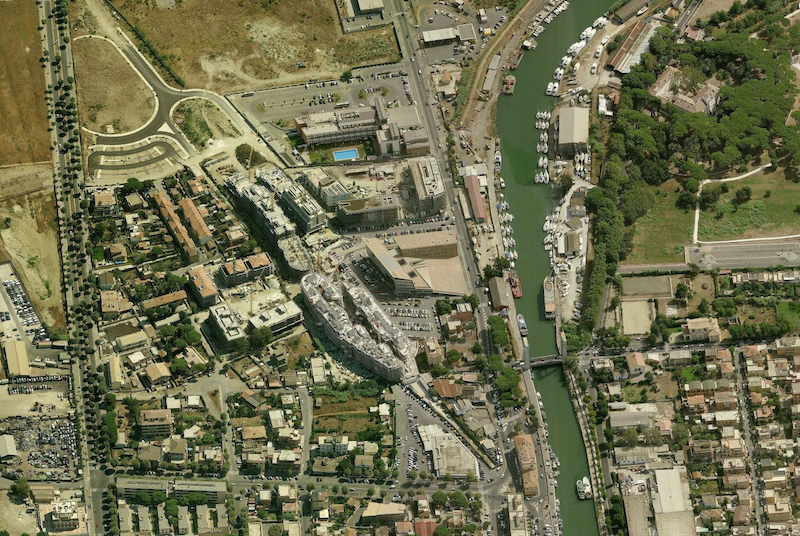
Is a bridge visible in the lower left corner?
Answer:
No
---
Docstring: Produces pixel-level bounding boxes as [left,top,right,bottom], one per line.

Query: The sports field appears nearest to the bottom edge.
[622,301,652,334]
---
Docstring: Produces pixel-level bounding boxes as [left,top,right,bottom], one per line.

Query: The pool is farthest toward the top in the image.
[333,148,359,161]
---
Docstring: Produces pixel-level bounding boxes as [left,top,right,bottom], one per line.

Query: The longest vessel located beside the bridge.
[543,274,556,320]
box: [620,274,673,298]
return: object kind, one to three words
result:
sports field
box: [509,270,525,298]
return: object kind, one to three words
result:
boat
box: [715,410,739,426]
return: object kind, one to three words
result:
house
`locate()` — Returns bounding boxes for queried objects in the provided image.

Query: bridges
[520,331,568,370]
